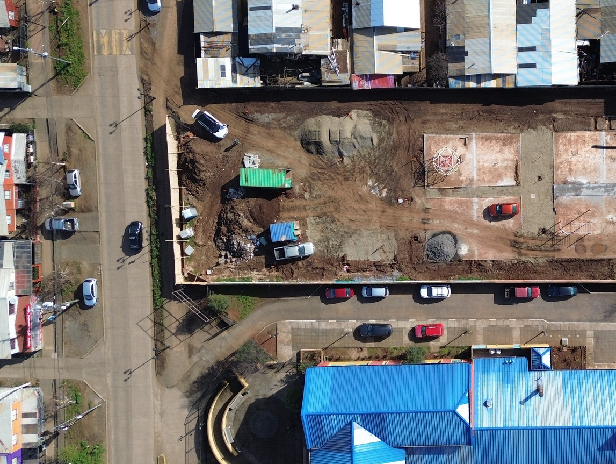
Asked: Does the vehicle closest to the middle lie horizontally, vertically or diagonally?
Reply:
horizontally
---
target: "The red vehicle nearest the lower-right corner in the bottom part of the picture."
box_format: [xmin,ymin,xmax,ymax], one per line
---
[505,283,540,301]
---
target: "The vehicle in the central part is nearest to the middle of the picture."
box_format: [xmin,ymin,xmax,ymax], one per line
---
[272,241,315,261]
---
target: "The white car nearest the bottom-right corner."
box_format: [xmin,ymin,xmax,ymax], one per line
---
[420,283,451,300]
